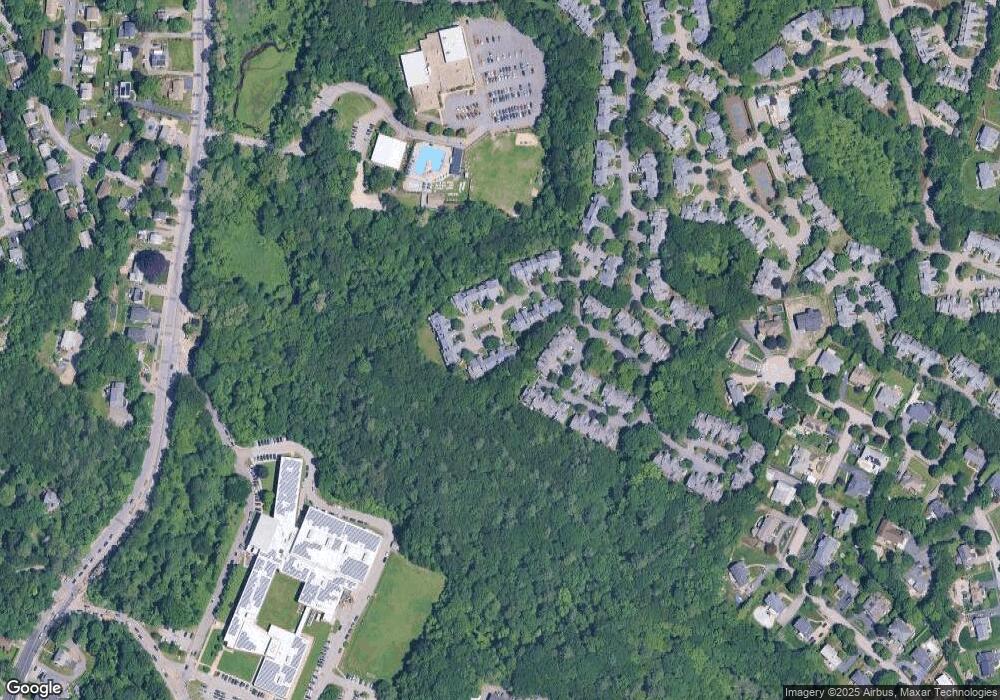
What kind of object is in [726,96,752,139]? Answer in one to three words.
tennis court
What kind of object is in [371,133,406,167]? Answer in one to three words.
building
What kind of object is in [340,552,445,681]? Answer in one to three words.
sports field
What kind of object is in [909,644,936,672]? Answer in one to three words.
house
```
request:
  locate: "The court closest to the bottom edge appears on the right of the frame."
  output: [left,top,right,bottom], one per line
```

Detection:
[748,162,776,209]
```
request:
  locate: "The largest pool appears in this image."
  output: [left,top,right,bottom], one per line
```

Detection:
[405,143,452,192]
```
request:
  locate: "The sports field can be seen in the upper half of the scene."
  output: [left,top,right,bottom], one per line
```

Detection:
[465,131,544,214]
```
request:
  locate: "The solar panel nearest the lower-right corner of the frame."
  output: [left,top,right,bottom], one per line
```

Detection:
[863,449,886,471]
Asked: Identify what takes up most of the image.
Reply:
trees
